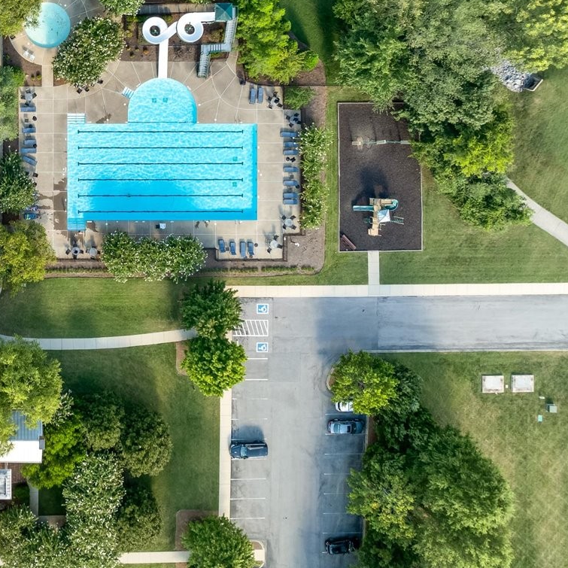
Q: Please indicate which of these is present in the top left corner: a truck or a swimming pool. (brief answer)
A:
swimming pool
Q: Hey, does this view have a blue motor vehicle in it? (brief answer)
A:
Yes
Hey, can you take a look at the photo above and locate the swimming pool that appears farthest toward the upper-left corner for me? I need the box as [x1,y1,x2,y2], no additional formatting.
[24,3,70,49]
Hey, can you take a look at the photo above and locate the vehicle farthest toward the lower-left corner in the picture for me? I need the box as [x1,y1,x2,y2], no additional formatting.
[230,444,270,463]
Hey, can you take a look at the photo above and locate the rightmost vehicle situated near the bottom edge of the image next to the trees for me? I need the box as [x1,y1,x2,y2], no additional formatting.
[325,538,362,559]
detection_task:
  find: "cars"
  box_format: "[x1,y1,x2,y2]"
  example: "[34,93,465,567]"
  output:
[329,420,367,438]
[325,538,362,559]
[230,444,270,463]
[335,400,373,417]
